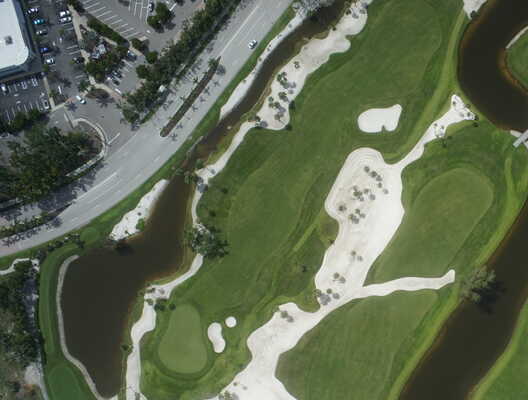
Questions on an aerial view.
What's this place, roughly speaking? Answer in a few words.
golf course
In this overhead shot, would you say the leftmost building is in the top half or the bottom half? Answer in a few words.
top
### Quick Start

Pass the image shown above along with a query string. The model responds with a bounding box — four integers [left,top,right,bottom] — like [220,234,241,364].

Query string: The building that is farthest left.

[0,0,40,77]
